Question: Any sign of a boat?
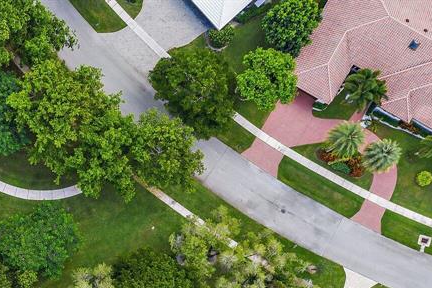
No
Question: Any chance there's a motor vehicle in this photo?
No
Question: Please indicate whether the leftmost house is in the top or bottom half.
top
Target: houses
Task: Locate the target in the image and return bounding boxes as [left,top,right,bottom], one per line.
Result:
[186,0,250,29]
[293,0,432,133]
